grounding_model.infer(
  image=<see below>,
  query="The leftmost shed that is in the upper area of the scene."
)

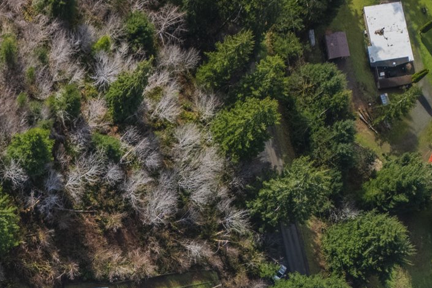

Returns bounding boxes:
[323,32,349,61]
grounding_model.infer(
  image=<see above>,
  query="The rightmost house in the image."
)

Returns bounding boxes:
[358,1,412,91]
